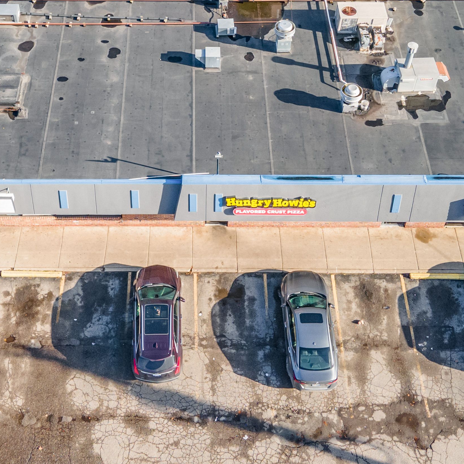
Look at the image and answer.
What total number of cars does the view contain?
2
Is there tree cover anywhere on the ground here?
No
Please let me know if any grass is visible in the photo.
No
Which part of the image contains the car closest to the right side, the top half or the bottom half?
bottom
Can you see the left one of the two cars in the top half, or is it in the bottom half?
bottom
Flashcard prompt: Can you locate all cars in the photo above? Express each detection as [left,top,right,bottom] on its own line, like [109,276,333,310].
[128,264,186,384]
[280,271,339,392]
